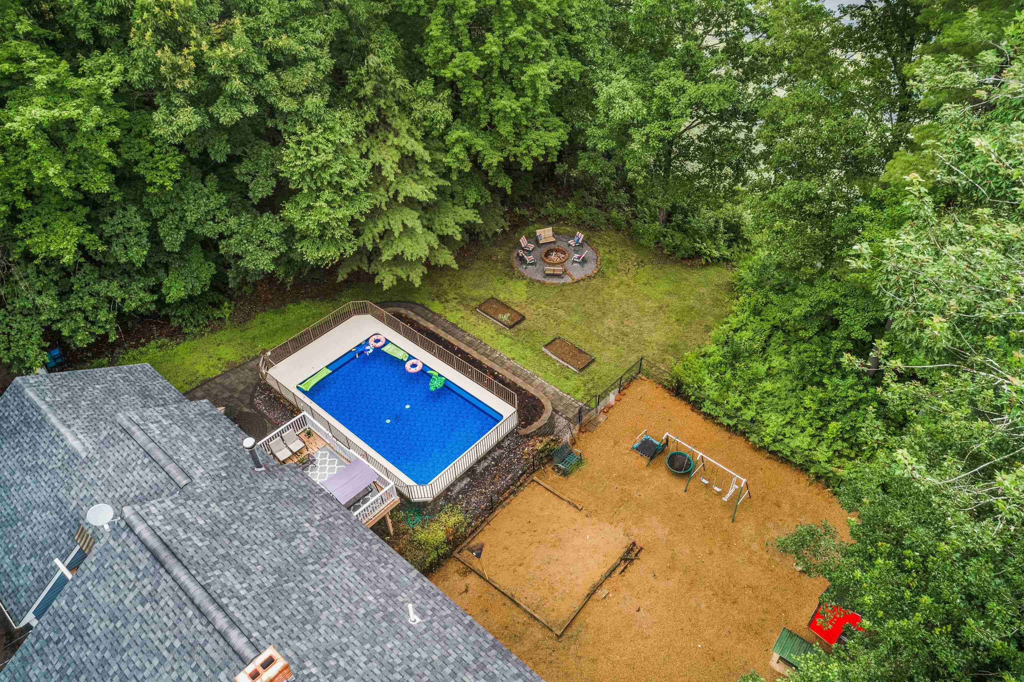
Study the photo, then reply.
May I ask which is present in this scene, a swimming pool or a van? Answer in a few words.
swimming pool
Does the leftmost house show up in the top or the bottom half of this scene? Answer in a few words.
bottom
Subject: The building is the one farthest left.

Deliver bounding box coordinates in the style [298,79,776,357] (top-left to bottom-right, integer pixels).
[0,362,545,682]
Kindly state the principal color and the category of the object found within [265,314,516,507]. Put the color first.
blue swimming pool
